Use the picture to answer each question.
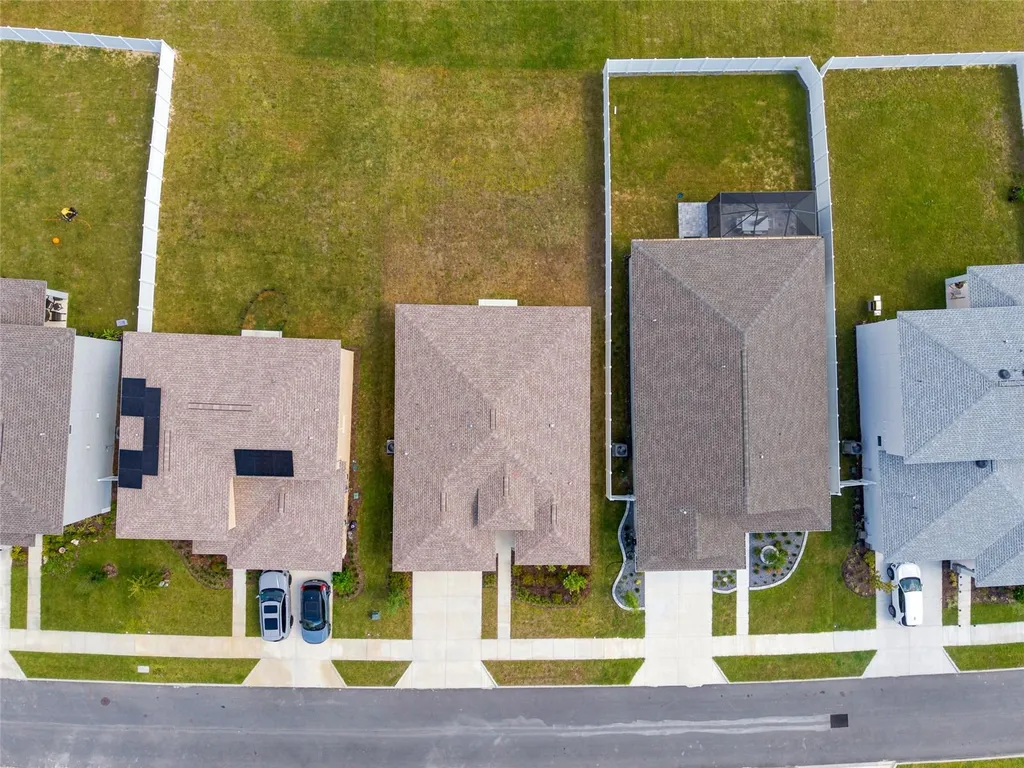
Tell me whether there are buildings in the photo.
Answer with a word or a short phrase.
Yes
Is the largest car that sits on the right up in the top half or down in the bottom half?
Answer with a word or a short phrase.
bottom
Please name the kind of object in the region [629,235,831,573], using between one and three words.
house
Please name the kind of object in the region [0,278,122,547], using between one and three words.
house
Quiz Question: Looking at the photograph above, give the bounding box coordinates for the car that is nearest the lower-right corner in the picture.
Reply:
[888,562,926,628]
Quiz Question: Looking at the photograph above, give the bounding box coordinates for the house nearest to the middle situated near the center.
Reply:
[392,304,593,573]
